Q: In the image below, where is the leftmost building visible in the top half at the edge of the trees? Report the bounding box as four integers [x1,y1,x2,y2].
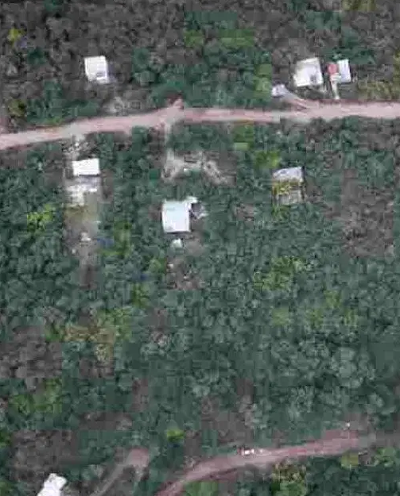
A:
[66,159,102,207]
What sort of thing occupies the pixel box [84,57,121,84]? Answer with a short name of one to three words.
house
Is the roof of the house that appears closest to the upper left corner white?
Yes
